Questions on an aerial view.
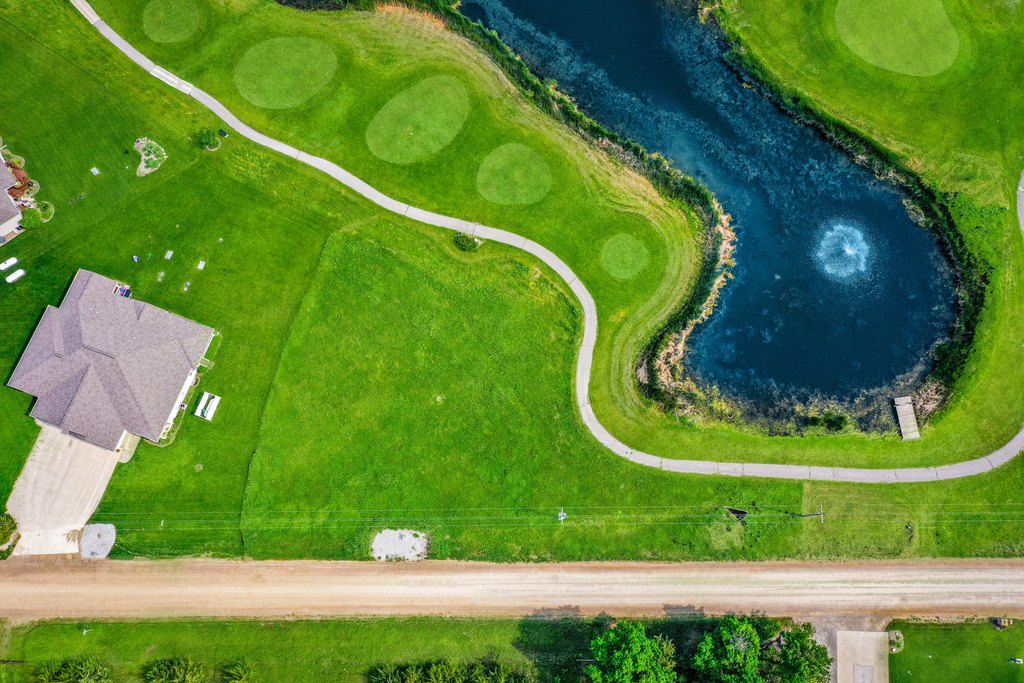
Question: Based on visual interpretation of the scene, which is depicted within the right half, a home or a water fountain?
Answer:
water fountain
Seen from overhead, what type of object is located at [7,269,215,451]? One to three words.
house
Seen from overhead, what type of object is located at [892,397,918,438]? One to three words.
pier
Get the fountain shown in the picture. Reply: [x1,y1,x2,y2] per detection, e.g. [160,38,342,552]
[797,213,889,285]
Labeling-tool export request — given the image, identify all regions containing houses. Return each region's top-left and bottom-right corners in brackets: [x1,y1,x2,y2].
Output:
[7,269,215,451]
[0,156,30,238]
